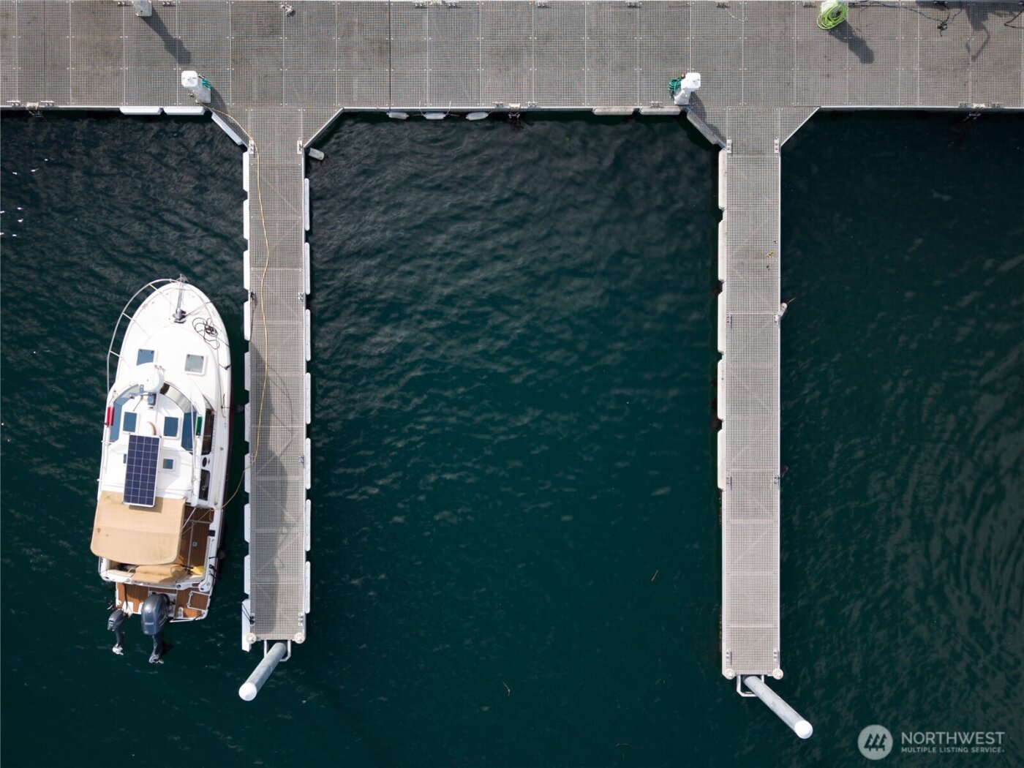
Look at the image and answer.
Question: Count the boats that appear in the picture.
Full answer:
The picture shows just 1 boat.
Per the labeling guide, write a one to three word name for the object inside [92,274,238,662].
boat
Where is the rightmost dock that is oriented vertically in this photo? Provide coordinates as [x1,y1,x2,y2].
[684,107,821,698]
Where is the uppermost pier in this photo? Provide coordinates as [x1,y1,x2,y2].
[0,0,1024,125]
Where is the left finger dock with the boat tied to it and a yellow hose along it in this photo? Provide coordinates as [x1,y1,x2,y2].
[208,107,347,663]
